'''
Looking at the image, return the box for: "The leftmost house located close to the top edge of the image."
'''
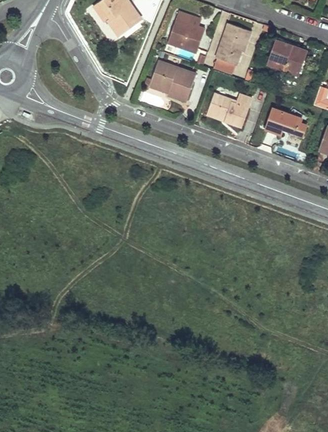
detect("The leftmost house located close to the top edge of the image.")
[94,0,142,36]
